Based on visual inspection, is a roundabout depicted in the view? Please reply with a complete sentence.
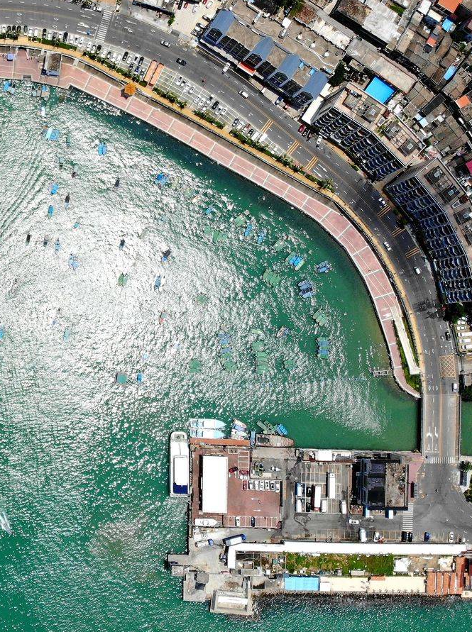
No, the frame has no roundabout in it.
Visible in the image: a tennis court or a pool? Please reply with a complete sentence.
Visible in the photo is a pool.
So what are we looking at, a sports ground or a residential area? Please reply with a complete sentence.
The area seen from above is a residential area.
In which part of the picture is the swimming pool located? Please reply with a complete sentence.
Look in the top right portion of the view to spot the swimming pool.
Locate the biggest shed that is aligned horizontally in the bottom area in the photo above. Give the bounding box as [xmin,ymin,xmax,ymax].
[281,538,468,556]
